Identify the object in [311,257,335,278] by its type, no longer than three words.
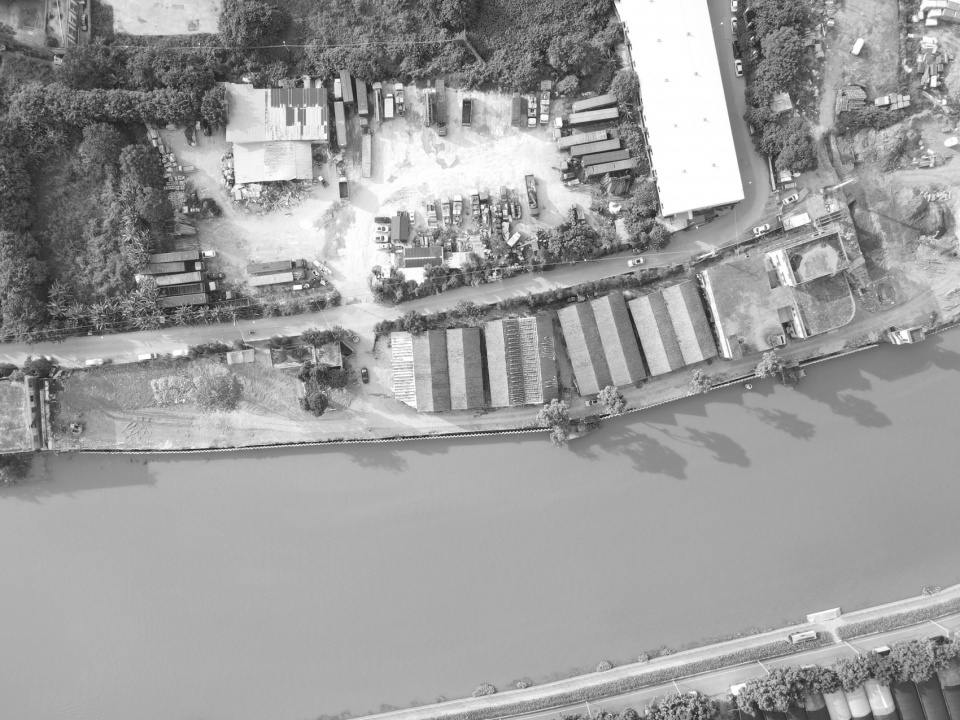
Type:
truck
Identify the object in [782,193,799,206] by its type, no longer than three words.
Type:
vehicle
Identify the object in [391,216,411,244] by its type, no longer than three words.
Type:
shed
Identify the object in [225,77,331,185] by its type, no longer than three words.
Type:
barn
